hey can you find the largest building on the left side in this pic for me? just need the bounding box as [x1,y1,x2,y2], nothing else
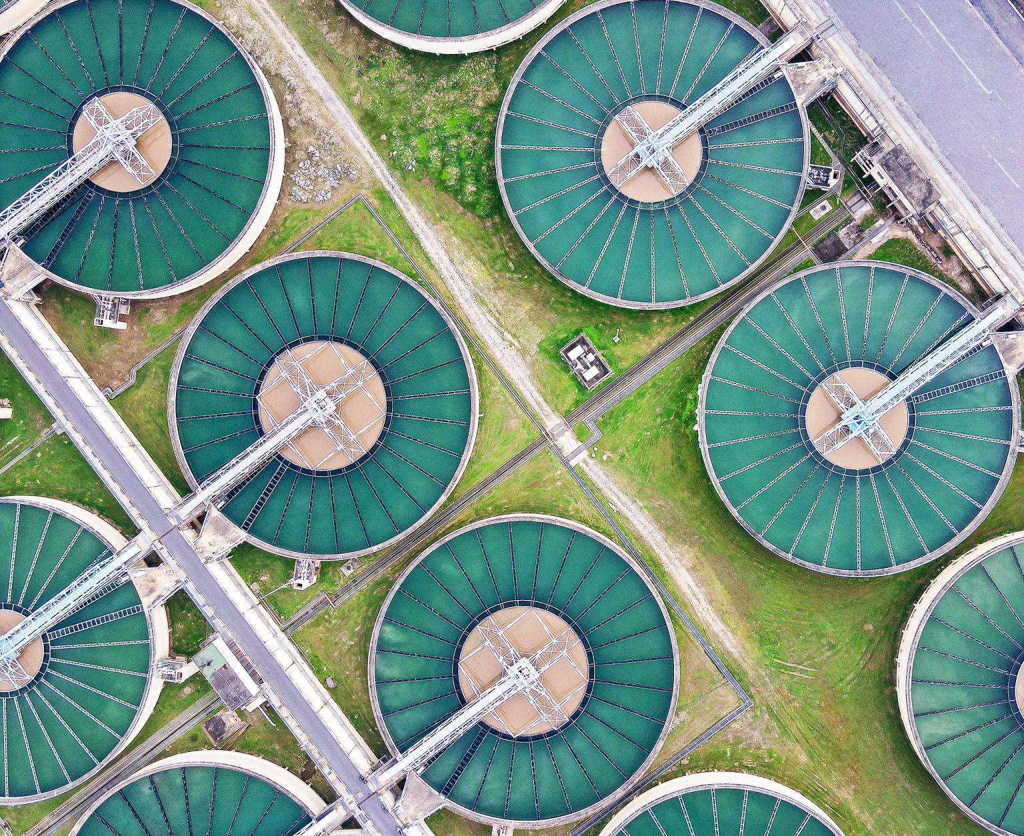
[191,634,263,712]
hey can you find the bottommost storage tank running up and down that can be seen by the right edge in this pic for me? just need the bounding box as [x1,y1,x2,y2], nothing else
[894,534,1024,836]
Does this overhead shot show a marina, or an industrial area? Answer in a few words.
industrial area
